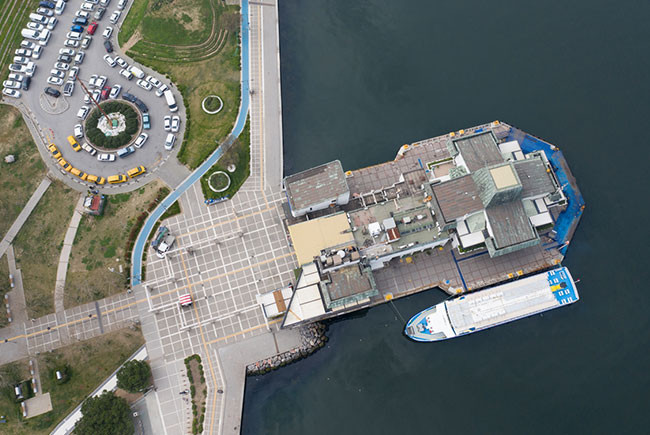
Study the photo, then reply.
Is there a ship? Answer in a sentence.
Yes, a ship is visible in the scene.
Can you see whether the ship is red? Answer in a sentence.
No, the color of the ship is white.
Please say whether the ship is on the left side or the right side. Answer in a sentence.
The ship appears in the right half of the scene.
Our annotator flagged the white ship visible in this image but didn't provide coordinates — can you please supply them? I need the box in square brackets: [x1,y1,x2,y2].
[404,264,582,343]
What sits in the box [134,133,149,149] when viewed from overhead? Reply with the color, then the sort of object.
white car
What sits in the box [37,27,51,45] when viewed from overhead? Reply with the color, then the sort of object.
white vehicle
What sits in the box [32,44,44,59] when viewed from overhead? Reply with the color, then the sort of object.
white vehicle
